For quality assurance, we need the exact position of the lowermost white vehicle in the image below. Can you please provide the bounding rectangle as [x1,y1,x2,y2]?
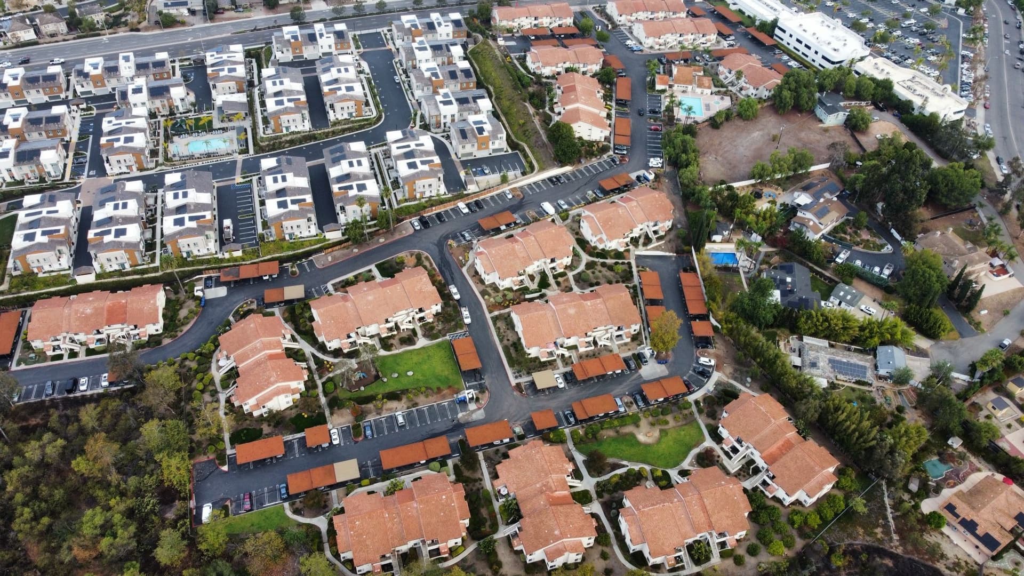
[199,501,211,523]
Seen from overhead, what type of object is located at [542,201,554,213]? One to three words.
vehicle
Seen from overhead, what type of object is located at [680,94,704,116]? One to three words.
swimming pool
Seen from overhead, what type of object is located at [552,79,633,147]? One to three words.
building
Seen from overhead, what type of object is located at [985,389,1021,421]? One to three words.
shed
